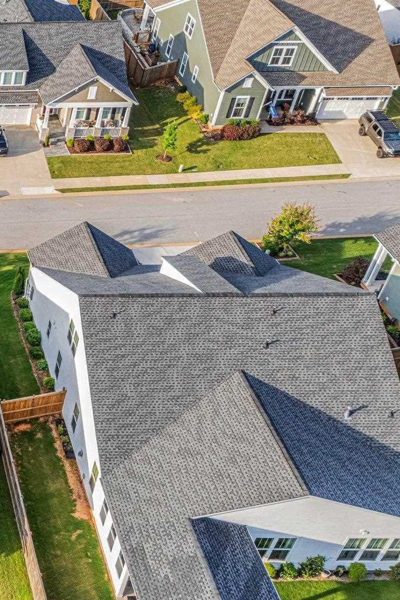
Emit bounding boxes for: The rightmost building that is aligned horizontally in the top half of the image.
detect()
[133,0,400,124]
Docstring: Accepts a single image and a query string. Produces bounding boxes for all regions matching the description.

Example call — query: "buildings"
[0,0,141,136]
[19,217,400,600]
[133,0,400,124]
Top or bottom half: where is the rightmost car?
top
